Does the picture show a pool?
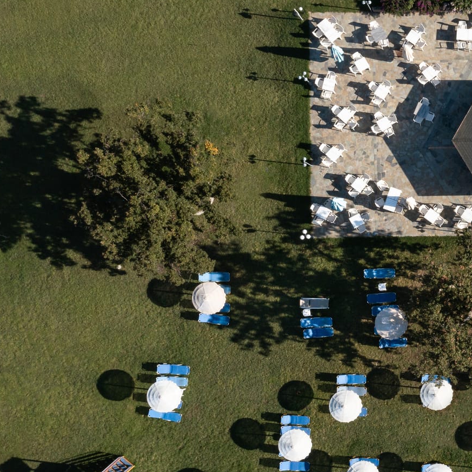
No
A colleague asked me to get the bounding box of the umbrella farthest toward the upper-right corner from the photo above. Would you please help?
[402,46,415,66]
